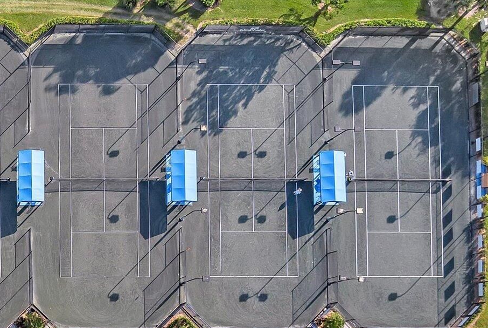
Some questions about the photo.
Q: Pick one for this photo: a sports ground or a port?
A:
sports ground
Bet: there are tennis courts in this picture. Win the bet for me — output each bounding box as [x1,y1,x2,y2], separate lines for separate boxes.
[29,33,182,328]
[177,33,329,328]
[323,35,472,328]
[0,35,32,328]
